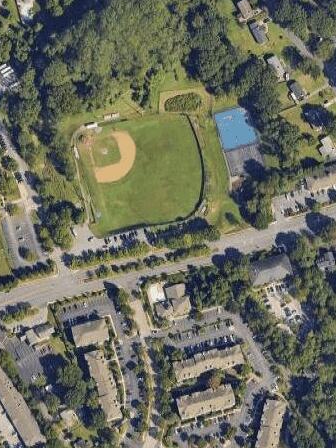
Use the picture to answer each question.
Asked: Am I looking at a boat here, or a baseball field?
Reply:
baseball field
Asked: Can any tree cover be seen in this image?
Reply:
Yes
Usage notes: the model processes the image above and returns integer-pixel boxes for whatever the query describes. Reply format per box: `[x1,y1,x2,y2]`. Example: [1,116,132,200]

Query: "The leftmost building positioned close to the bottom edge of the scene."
[0,370,42,448]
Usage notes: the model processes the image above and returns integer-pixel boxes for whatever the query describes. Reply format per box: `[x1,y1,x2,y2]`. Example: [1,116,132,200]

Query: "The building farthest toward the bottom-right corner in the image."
[258,401,283,448]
